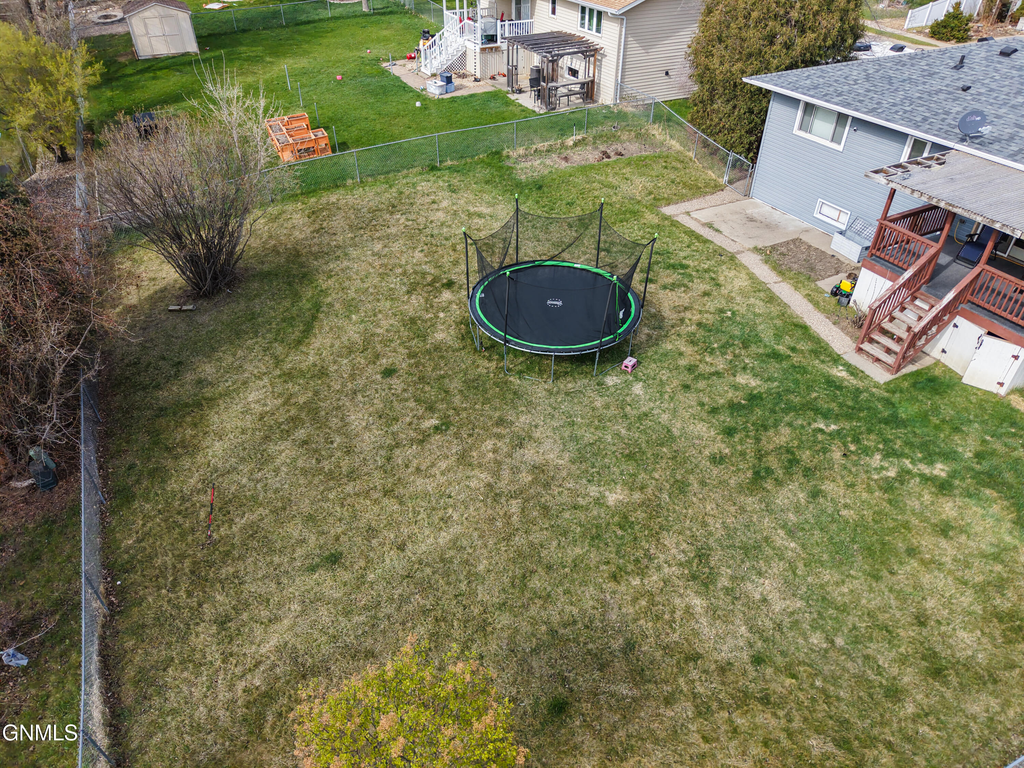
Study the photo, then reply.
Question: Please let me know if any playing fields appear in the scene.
No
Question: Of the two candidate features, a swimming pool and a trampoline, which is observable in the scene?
trampoline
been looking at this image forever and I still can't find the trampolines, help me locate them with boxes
[461,191,658,383]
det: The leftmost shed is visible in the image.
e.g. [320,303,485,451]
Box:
[123,0,198,60]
